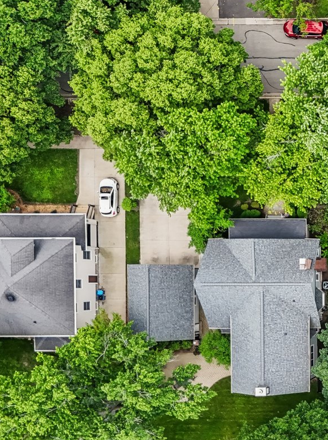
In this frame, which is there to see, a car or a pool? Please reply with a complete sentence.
The one in the frame is a car.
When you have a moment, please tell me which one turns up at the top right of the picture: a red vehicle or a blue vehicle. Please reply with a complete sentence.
The one visible at the top right of the picture is a red vehicle.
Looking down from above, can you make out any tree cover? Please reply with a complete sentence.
Yes, there's tree cover in this view.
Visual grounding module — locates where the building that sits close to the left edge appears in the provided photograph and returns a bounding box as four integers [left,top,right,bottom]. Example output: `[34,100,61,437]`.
[0,202,97,351]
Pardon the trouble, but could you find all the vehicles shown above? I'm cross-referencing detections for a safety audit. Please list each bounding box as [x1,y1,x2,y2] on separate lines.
[285,21,328,42]
[97,179,121,218]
